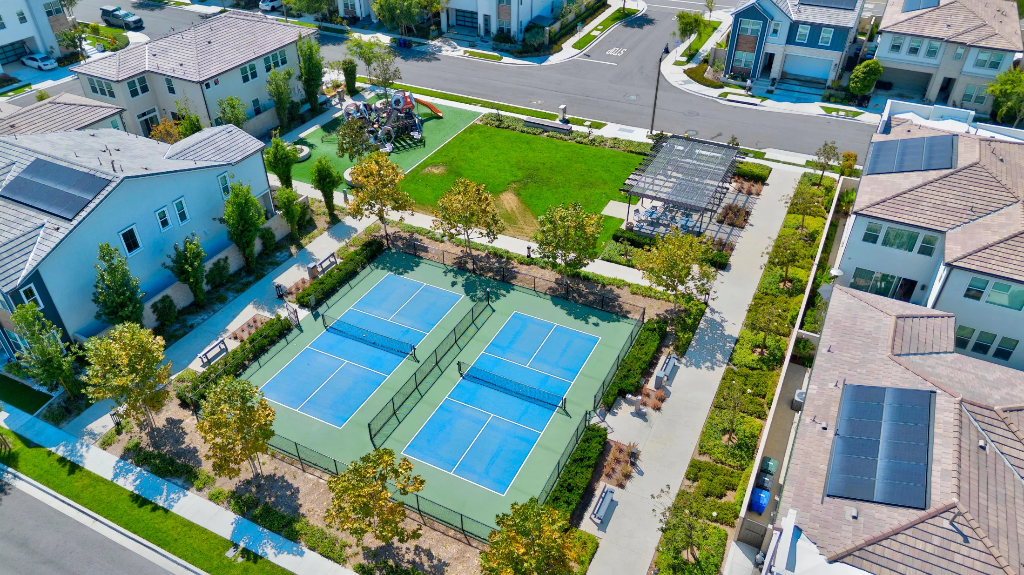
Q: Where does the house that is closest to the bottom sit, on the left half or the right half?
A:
right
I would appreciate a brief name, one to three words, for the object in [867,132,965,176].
solar array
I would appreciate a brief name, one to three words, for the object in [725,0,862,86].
house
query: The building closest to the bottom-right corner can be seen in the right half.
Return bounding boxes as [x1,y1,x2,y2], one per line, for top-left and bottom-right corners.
[754,285,1024,575]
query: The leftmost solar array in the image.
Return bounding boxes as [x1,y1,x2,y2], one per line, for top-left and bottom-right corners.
[0,150,108,216]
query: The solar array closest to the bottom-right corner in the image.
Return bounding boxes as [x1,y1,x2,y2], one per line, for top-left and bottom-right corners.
[825,381,939,512]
